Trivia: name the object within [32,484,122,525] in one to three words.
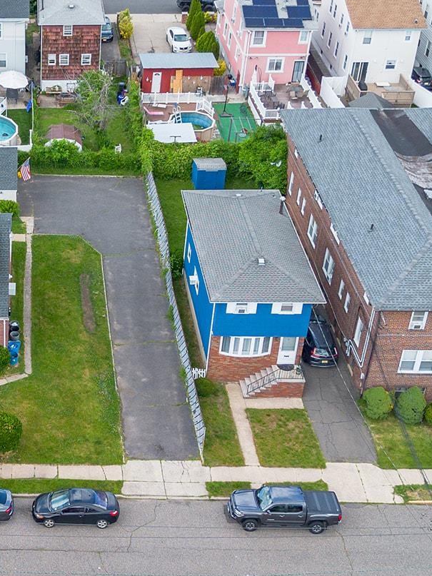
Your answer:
car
